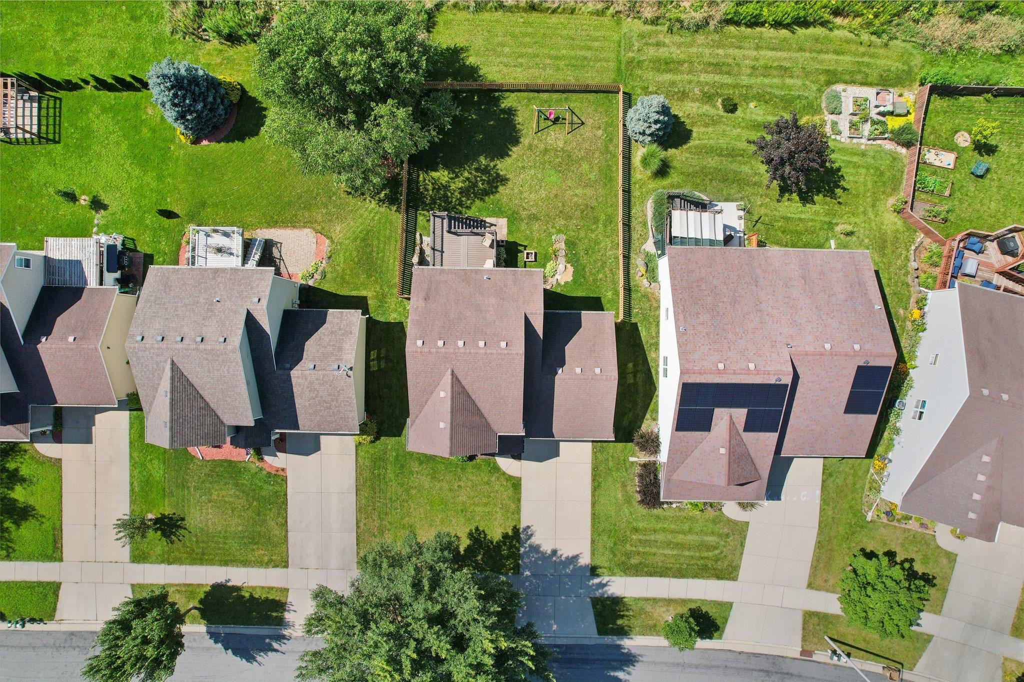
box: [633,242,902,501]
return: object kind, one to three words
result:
house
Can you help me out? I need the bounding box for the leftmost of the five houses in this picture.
[0,241,138,442]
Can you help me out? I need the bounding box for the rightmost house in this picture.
[869,281,1024,542]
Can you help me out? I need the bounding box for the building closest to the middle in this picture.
[403,265,619,458]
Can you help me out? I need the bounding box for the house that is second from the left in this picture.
[124,265,368,461]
